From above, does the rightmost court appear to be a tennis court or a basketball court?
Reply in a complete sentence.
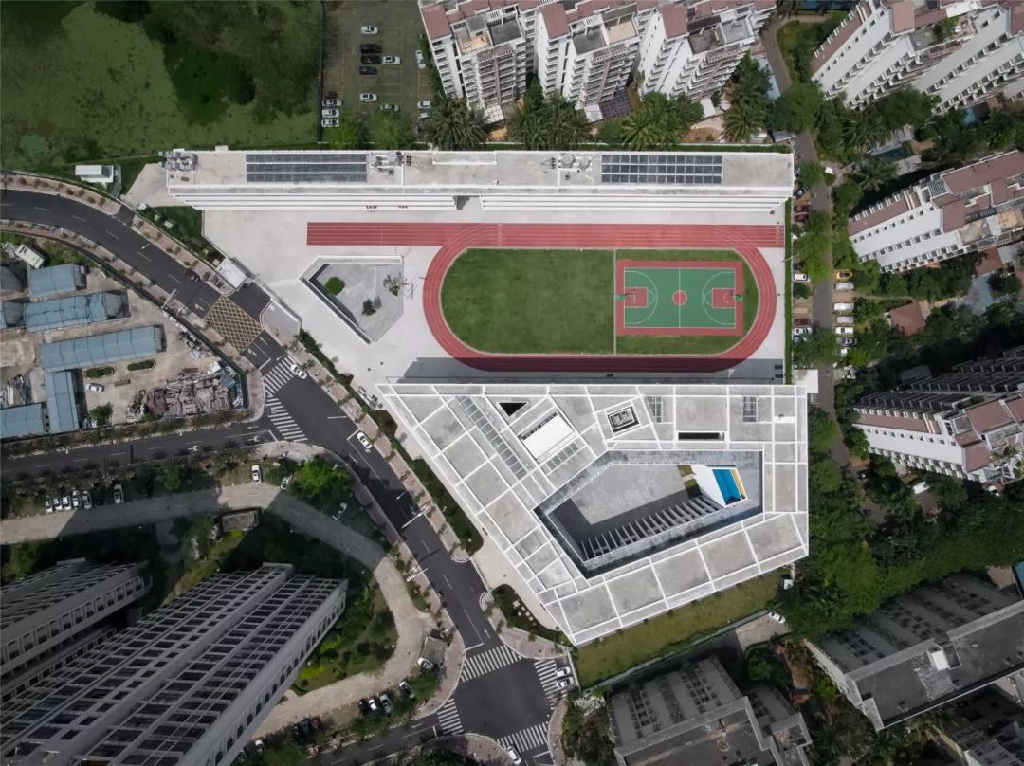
The rightmost court appears to be a basketball court.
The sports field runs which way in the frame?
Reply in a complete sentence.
The sports field is laid out from side to side.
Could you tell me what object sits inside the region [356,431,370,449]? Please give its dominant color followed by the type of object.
white car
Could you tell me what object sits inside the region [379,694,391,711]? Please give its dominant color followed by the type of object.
gray vehicle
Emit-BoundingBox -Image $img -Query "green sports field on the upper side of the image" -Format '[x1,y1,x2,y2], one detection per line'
[442,248,759,354]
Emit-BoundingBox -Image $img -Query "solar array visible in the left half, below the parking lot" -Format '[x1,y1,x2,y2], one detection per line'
[246,154,368,182]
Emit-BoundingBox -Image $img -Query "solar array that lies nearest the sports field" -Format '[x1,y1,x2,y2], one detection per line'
[601,154,722,182]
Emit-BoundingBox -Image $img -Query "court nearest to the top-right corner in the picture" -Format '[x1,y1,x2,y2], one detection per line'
[616,261,742,335]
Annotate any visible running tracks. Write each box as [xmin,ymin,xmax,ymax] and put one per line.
[307,222,784,373]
